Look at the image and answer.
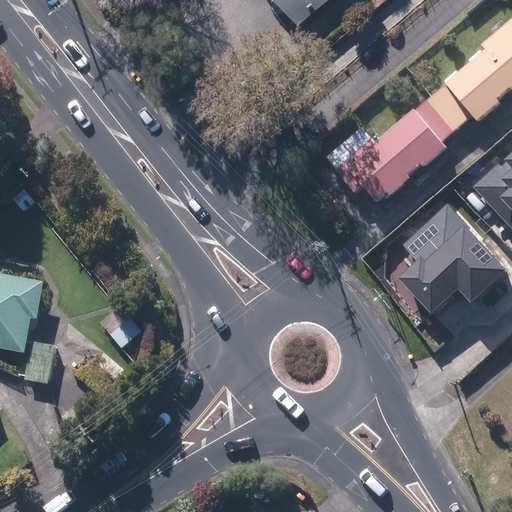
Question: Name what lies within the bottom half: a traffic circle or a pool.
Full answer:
You can see a traffic circle within the bottom half.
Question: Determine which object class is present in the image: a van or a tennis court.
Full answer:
Visible in the photo is a van.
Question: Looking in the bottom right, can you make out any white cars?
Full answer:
Yes, a white car can be seen in the bottom right.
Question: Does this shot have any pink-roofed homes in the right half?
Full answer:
Yes, a pink-roofed home can be seen in the right half.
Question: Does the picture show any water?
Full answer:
No, no water is visible.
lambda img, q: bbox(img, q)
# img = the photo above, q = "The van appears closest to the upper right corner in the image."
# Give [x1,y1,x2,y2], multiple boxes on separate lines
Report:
[465,191,493,220]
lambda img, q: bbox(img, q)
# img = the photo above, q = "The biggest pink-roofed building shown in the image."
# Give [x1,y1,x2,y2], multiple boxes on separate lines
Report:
[336,100,456,202]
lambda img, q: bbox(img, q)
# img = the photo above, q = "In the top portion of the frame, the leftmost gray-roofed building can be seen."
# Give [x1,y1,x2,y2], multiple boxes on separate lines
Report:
[270,0,328,34]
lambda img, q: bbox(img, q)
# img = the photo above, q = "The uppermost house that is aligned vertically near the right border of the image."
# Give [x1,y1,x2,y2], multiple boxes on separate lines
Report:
[474,151,512,229]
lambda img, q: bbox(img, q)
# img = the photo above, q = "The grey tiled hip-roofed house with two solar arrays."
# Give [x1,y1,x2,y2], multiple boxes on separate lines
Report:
[399,204,506,314]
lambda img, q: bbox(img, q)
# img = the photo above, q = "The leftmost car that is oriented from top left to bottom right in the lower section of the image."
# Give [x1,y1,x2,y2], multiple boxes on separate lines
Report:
[207,305,230,334]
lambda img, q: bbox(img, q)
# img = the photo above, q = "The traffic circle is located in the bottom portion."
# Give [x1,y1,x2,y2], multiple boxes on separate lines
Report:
[270,322,341,393]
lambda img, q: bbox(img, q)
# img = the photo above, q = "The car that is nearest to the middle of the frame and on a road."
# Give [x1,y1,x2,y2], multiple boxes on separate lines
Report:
[286,252,312,279]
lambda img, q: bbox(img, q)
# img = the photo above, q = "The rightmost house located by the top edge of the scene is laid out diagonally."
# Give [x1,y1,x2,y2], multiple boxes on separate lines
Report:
[428,21,512,130]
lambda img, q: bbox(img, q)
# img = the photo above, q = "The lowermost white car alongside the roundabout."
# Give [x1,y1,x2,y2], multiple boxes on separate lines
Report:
[274,388,303,417]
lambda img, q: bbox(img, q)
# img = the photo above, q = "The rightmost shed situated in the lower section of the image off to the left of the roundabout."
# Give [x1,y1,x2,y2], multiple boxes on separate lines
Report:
[100,312,140,348]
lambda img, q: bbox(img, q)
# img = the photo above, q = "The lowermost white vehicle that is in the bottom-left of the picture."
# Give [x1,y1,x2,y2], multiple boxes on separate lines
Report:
[40,486,74,512]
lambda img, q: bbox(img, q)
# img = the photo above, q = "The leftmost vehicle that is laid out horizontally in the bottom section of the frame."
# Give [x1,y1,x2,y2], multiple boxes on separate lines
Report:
[224,438,256,454]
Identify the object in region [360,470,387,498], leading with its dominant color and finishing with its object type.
white car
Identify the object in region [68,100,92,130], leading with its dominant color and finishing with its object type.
white car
